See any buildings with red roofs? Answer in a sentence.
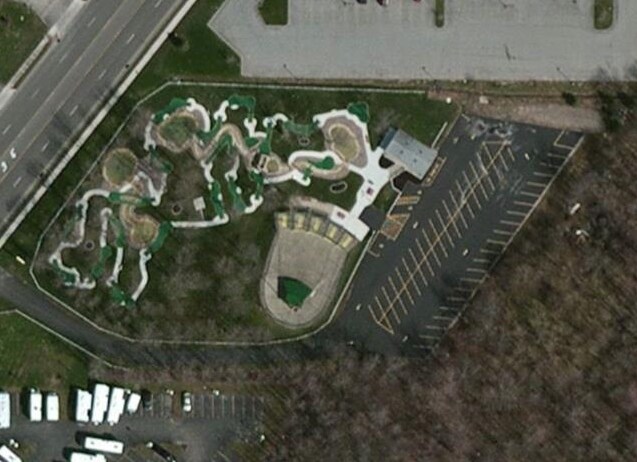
No, no building with a red roof is visible in the scene.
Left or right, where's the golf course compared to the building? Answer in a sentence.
Compared with the building, the golf course is located further to the left.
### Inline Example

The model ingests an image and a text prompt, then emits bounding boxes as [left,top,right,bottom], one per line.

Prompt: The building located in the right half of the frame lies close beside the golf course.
[377,124,438,177]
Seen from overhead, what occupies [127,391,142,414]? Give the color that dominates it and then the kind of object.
white vehicle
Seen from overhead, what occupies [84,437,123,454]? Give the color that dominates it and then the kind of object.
white camper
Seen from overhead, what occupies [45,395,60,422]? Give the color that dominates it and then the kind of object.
white camper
